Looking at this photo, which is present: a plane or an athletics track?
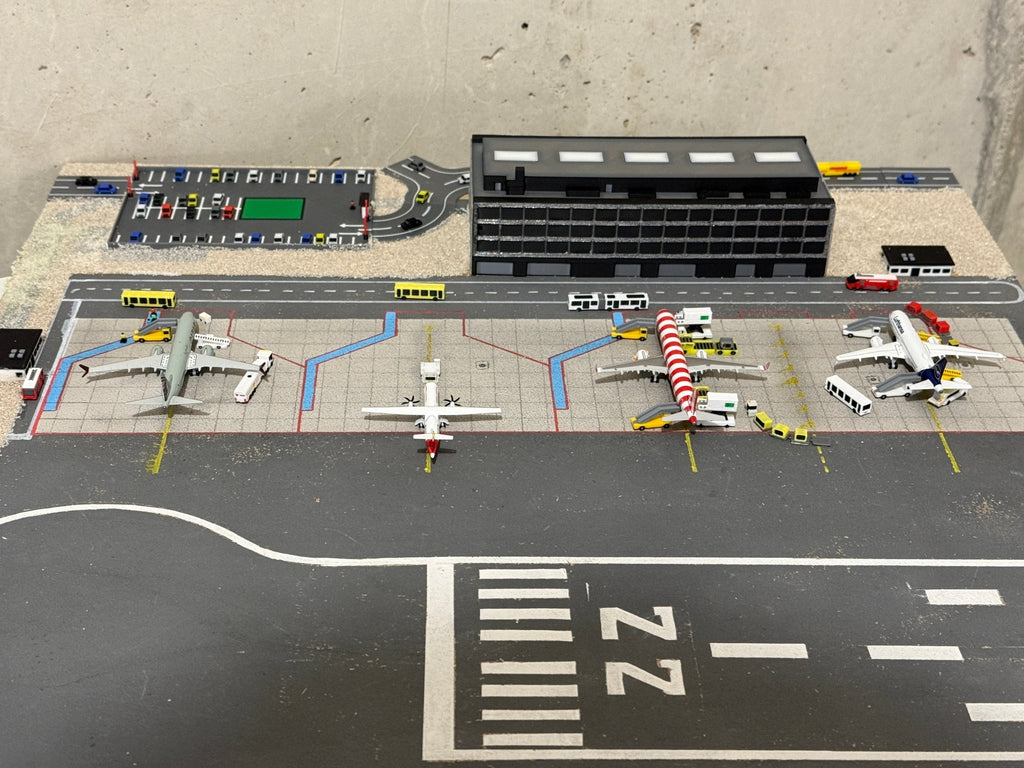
plane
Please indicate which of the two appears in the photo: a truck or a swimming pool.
truck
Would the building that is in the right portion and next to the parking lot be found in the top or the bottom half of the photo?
top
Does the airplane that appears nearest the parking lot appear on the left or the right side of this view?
left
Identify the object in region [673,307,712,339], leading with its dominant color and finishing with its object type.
white truck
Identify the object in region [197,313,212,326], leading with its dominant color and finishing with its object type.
white vehicle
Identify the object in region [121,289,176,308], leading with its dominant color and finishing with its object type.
yellow vehicle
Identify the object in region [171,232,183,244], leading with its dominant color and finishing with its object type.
gray vehicle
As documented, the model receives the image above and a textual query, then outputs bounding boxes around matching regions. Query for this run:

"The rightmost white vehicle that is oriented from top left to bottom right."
[824,377,876,417]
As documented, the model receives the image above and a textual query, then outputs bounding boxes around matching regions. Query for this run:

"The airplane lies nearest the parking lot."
[77,313,266,408]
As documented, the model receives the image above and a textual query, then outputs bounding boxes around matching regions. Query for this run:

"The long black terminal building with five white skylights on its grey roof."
[472,135,836,277]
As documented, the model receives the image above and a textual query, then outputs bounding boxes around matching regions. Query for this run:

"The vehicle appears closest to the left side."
[22,368,44,398]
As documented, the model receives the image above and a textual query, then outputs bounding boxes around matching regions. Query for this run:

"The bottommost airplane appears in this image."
[362,380,501,458]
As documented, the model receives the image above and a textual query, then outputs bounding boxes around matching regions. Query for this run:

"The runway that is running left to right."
[0,299,1024,768]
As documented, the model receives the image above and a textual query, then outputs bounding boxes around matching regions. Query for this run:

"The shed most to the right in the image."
[881,246,956,276]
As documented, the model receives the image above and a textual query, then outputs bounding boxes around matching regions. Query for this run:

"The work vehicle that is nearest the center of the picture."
[421,361,440,384]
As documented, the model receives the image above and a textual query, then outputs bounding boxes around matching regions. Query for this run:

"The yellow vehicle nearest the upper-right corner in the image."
[820,162,862,178]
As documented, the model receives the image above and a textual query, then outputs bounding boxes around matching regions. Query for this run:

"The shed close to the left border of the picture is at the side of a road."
[0,327,42,381]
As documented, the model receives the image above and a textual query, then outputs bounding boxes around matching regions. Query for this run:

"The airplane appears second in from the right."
[593,309,767,424]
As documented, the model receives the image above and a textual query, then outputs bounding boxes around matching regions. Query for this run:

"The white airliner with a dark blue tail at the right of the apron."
[836,310,1005,395]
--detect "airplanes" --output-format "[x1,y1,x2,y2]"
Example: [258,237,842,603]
[362,380,501,458]
[593,309,767,424]
[77,313,266,408]
[836,310,1005,395]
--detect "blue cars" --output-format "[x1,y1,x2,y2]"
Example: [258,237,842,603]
[130,231,142,243]
[139,193,150,206]
[95,184,116,194]
[897,175,918,185]
[174,168,186,181]
[302,233,312,244]
[251,232,262,244]
[335,170,344,183]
